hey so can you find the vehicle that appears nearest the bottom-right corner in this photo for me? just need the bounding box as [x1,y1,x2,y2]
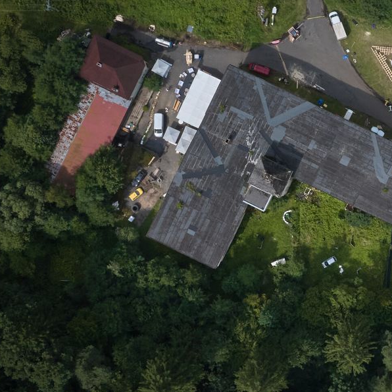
[321,254,337,268]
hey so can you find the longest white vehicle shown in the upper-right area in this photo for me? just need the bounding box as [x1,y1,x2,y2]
[327,11,347,43]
